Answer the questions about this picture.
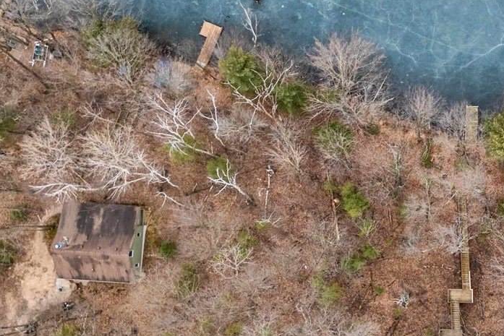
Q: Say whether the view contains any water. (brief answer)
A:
Yes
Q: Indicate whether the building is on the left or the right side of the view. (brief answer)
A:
left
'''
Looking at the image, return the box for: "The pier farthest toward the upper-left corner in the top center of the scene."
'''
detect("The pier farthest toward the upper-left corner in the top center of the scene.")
[195,23,223,69]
